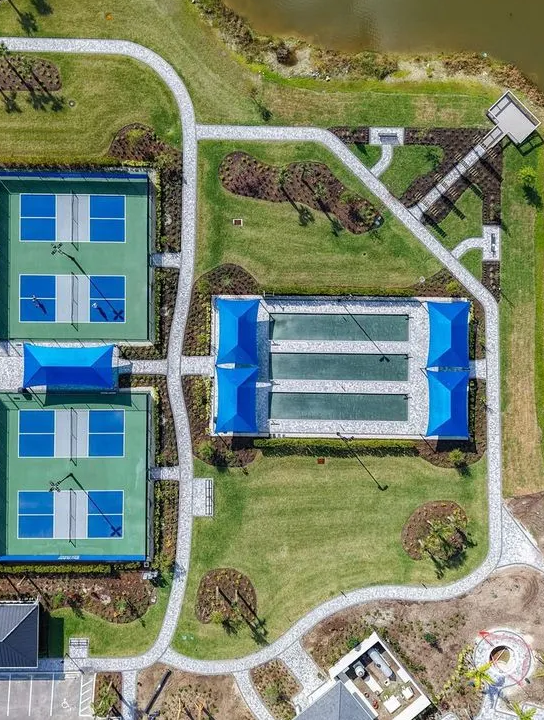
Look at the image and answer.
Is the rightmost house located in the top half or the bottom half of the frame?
bottom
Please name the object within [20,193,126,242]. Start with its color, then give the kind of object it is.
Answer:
blue sports court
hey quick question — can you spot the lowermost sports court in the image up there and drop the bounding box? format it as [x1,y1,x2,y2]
[18,490,124,539]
